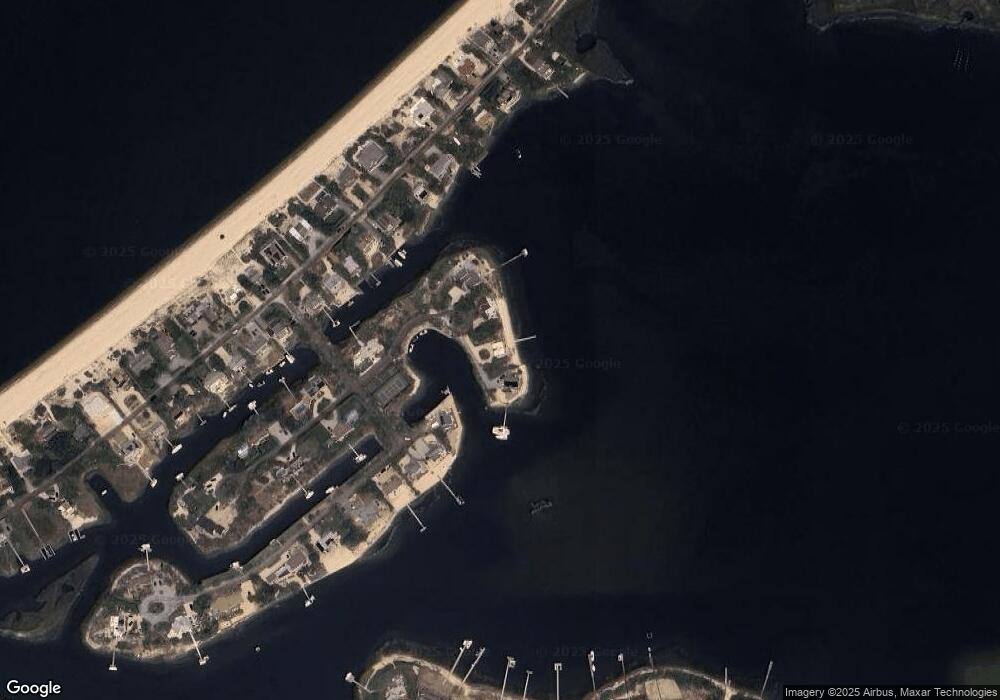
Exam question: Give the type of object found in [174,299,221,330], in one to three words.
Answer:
house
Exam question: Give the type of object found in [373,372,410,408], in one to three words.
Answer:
tennis court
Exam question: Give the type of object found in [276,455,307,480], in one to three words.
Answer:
house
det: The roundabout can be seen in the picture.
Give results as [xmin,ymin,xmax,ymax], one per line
[140,594,174,624]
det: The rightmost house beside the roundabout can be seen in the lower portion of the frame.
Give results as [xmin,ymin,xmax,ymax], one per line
[167,612,193,640]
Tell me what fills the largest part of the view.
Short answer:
water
